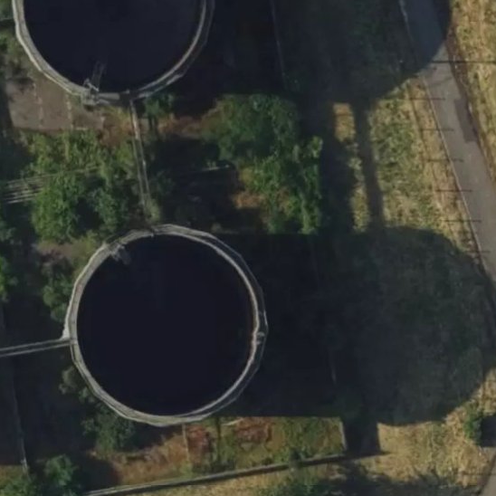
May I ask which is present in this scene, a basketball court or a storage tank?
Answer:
storage tank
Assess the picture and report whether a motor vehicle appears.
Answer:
No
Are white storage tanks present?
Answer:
No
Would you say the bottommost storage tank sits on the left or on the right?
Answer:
left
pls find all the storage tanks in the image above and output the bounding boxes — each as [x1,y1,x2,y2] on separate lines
[63,225,266,424]
[14,0,212,106]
